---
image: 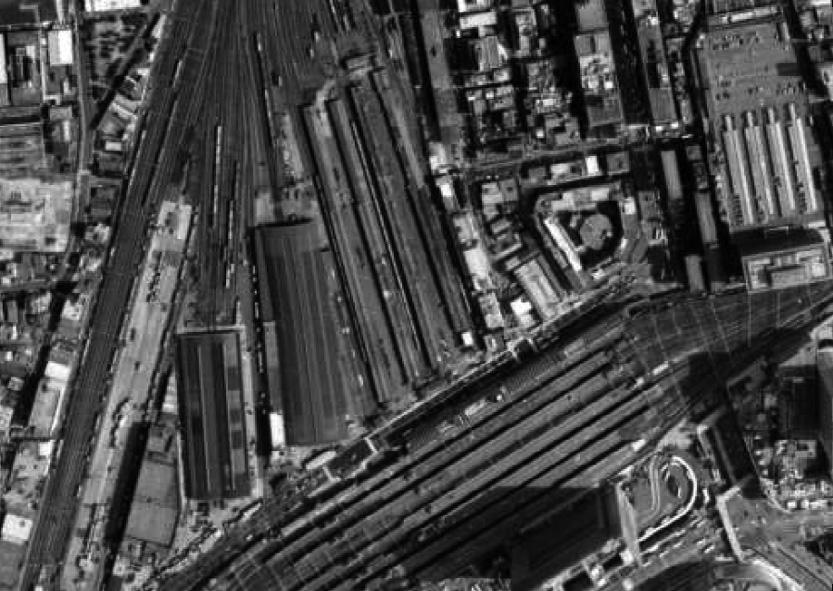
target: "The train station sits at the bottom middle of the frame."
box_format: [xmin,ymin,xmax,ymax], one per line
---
[226,319,656,591]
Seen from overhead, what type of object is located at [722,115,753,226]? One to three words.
shed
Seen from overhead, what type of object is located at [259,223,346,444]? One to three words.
shed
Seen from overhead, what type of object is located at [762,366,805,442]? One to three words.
building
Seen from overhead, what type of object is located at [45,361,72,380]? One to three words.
building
